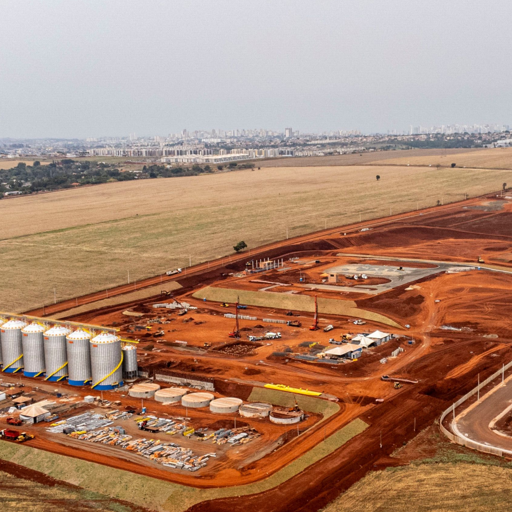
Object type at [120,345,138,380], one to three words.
silo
